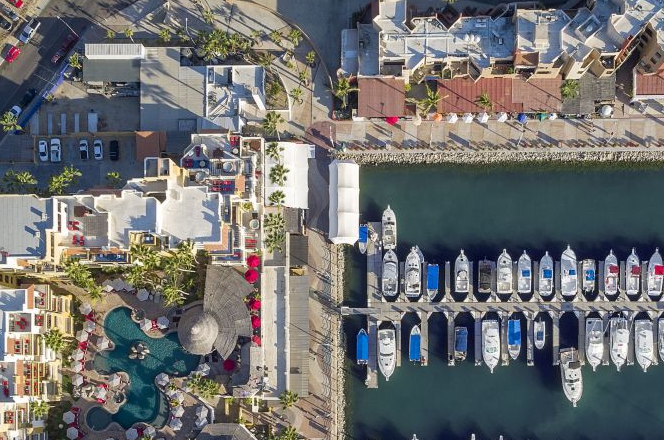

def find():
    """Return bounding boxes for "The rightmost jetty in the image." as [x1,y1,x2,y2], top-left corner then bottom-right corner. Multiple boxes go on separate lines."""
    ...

[367,222,664,388]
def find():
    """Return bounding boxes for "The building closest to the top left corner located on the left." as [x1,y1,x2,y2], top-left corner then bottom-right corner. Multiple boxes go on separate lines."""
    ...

[84,44,145,97]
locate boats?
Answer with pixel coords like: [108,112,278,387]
[427,261,439,300]
[355,329,368,367]
[376,323,396,380]
[645,247,664,297]
[453,249,470,294]
[478,260,492,297]
[454,323,468,360]
[480,320,501,372]
[633,319,659,371]
[495,248,515,295]
[559,244,578,297]
[358,221,368,253]
[558,348,589,407]
[581,259,597,295]
[624,247,646,295]
[381,205,397,250]
[507,316,521,360]
[603,249,620,296]
[381,247,398,297]
[517,250,532,295]
[409,326,422,364]
[532,314,546,349]
[404,244,423,298]
[608,317,633,371]
[538,250,555,297]
[584,319,609,370]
